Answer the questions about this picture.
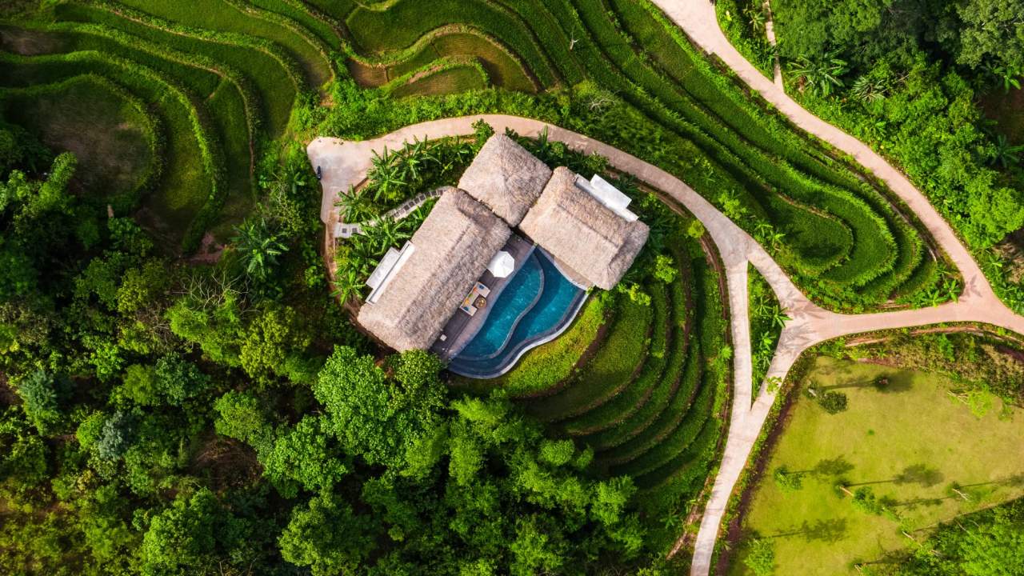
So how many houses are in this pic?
3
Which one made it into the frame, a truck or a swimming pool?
swimming pool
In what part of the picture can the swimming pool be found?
center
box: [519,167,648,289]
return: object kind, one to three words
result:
house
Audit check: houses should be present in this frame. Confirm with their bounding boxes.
[457,132,553,228]
[362,192,508,356]
[519,167,648,289]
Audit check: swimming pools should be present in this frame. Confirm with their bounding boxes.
[445,241,588,379]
